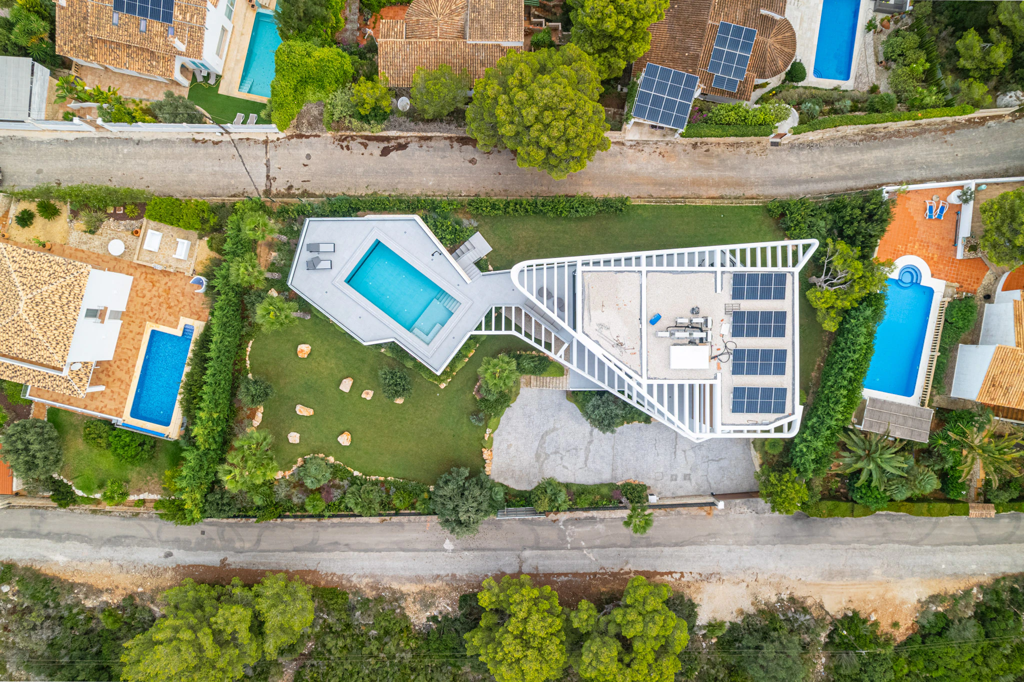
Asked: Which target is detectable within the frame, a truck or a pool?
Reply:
pool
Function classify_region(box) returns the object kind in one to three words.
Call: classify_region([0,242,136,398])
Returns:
house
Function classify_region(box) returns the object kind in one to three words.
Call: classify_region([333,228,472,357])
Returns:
swimming pool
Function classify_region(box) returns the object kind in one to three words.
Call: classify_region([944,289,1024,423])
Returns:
house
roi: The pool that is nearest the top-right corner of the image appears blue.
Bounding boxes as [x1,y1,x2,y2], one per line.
[808,0,866,87]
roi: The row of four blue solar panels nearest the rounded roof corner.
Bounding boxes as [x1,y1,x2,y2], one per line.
[730,386,787,413]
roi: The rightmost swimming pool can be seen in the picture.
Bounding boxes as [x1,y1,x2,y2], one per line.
[849,254,945,405]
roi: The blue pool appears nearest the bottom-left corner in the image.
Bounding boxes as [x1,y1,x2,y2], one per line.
[123,317,207,439]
